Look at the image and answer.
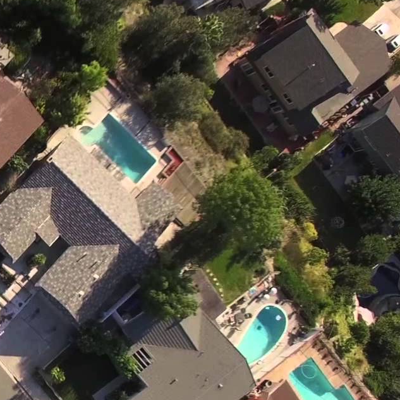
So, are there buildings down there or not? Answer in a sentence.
Yes, the picture does show a building.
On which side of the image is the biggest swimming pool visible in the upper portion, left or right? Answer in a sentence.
The biggest swimming pool visible in the upper portion appears in the left half of the scene.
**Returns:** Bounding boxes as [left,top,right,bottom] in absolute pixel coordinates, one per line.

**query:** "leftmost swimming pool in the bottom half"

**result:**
[243,303,290,364]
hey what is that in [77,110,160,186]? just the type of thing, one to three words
swimming pool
